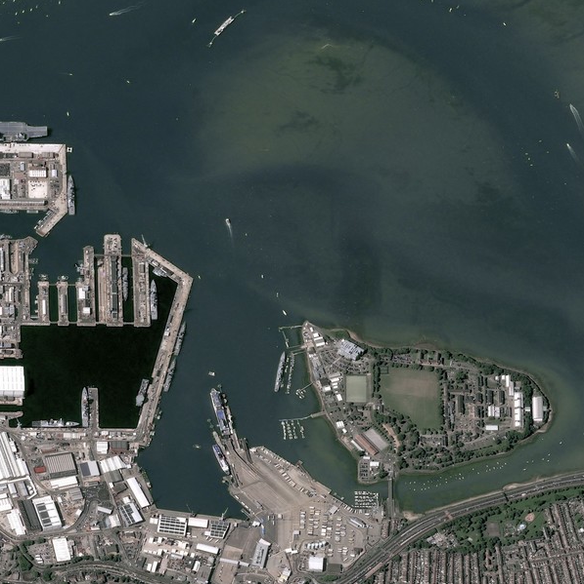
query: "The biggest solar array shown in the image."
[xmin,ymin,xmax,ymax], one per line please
[159,518,186,534]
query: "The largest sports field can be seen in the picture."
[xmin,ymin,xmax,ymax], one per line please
[378,365,443,429]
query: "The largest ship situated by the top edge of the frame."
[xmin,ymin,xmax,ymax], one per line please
[214,16,235,35]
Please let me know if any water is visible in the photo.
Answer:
Yes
